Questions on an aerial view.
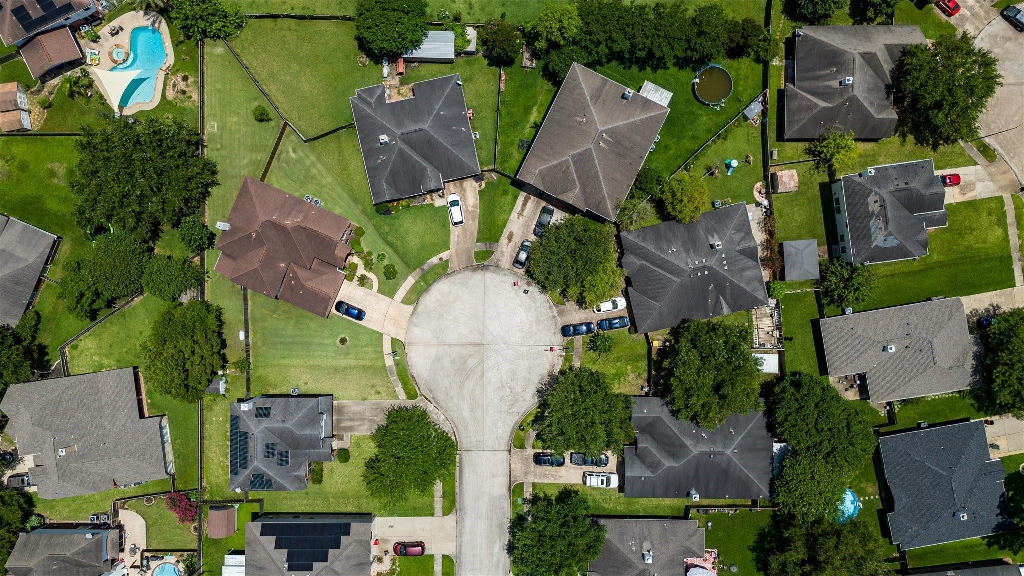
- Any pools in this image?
Yes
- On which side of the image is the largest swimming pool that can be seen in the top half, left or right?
left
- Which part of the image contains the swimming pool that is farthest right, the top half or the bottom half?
bottom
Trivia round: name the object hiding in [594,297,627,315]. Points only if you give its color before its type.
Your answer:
white car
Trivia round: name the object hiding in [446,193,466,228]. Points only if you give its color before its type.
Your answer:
white car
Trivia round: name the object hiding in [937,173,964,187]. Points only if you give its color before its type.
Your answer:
red car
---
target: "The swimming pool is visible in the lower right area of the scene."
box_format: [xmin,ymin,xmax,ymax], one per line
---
[841,490,866,521]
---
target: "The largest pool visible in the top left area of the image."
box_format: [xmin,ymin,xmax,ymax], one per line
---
[109,24,169,109]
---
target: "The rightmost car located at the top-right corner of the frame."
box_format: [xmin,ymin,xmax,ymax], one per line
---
[998,5,1024,35]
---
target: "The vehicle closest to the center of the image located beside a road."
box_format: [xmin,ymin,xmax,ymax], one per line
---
[512,239,532,271]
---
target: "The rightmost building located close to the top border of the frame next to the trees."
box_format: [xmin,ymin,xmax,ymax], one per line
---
[781,25,931,140]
